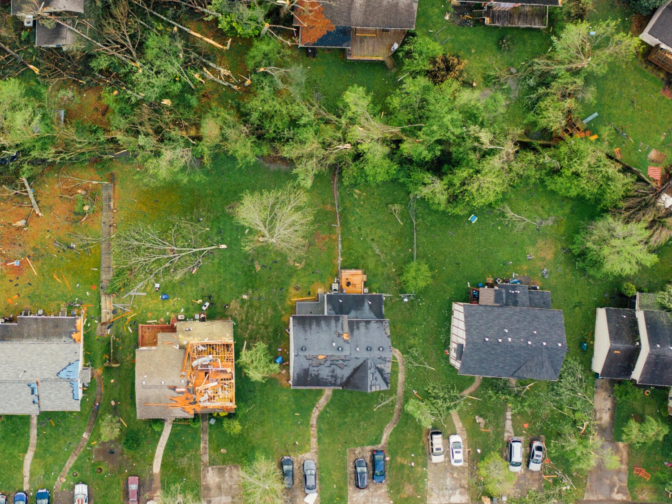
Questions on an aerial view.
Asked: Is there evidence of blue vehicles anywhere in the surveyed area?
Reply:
Yes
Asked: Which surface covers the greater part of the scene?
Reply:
grass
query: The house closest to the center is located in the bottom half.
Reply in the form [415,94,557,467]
[290,270,395,394]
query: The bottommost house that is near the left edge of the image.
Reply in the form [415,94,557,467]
[0,316,91,416]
